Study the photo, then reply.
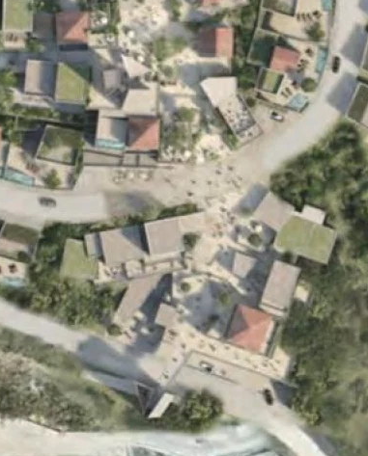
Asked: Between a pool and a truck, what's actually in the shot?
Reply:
pool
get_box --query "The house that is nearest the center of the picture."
[145,218,183,257]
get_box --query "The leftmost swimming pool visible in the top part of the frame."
[0,165,34,187]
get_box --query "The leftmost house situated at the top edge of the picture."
[2,0,33,32]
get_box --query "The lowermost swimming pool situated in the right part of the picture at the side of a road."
[286,91,313,109]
